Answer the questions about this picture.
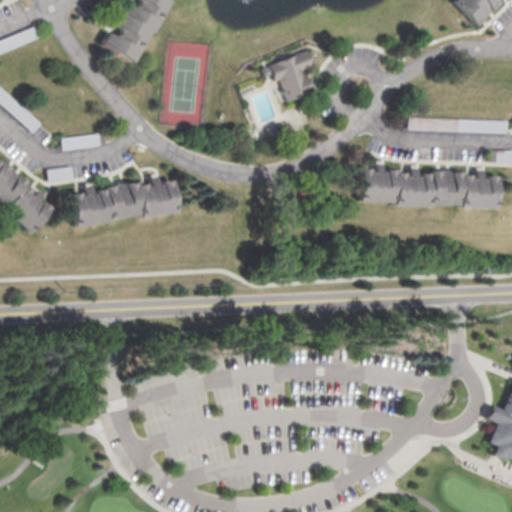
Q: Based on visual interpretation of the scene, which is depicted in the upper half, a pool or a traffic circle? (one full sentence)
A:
It is a pool that can be seen in the upper half.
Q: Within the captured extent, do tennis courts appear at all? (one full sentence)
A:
Yes, a tennis court can be made out from above.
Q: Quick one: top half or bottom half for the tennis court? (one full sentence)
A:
You can find the tennis court in the top half.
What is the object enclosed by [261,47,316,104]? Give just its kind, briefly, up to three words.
building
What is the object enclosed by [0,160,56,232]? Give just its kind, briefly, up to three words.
building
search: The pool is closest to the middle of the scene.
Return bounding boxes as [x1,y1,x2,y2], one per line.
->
[240,73,309,140]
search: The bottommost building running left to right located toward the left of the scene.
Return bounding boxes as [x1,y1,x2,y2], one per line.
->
[76,178,184,224]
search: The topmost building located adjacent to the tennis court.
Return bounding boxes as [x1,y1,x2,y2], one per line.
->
[108,0,174,67]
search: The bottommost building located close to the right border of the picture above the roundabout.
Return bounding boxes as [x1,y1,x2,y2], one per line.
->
[362,168,506,210]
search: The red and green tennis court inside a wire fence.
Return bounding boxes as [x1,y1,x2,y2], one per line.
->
[161,42,208,127]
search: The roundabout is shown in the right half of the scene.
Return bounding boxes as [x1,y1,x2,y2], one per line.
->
[432,378,469,421]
